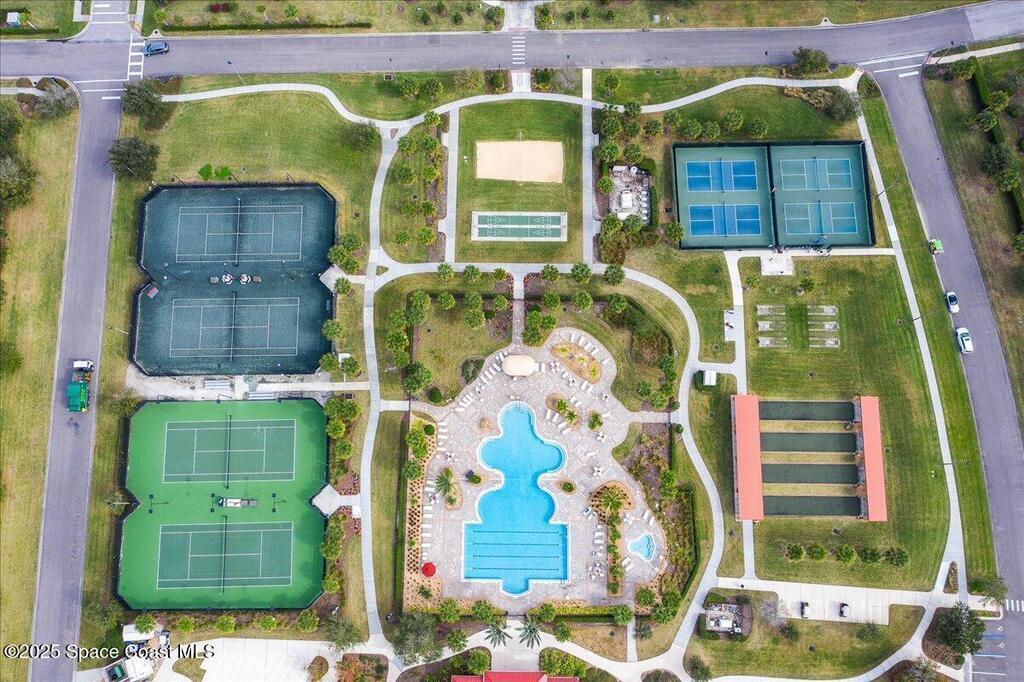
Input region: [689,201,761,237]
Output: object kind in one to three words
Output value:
sports court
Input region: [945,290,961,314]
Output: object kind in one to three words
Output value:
car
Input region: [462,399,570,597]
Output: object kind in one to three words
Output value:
swimming pool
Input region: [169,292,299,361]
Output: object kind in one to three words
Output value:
tennis court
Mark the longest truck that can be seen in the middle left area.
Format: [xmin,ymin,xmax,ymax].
[69,361,91,413]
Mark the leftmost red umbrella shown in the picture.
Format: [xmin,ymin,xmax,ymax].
[421,561,437,577]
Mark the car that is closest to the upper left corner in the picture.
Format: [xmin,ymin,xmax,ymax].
[145,42,168,55]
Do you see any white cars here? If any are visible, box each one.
[956,328,975,354]
[945,290,961,314]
